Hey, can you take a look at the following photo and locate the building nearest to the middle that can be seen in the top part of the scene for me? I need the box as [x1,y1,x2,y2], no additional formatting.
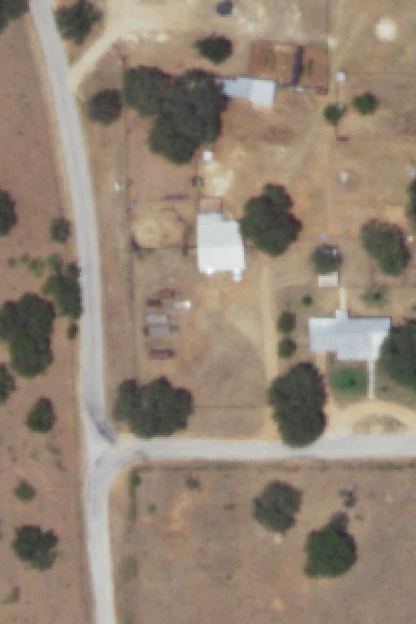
[196,213,244,275]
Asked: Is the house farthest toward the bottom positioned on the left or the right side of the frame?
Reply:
right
